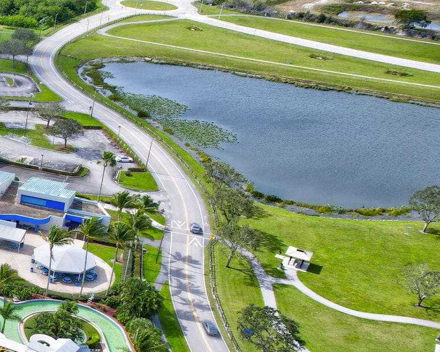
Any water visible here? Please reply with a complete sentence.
Yes, some water is visible.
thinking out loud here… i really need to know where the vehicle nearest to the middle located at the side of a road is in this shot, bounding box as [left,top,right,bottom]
[189,220,203,234]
